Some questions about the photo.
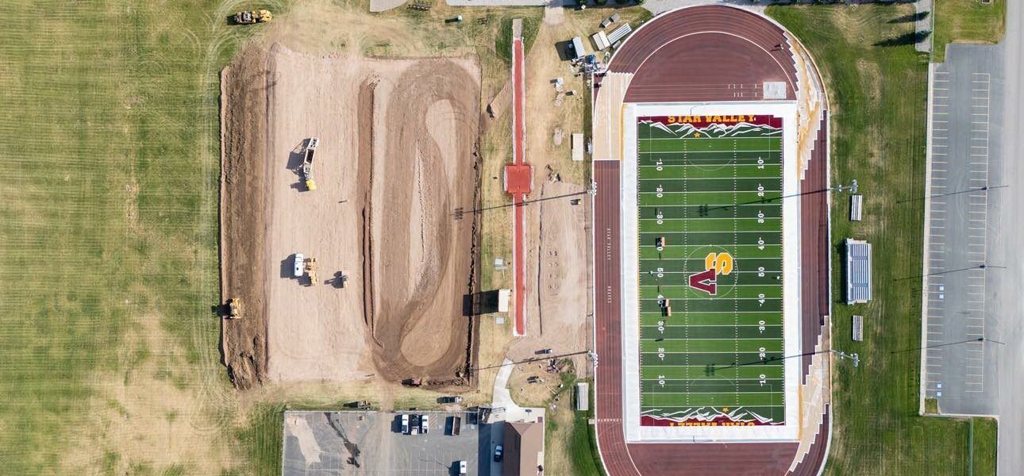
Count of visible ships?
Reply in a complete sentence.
Not a single ship can be seen.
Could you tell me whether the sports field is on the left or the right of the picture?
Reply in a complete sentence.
The sports field sits on the right side.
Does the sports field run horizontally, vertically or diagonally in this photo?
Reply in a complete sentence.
In this picture, the sports field lies vertically.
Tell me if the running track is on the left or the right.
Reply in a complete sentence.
The running track appears in the right half of the scene.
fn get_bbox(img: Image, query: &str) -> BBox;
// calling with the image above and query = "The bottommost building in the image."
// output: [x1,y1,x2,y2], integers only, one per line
[504,420,542,476]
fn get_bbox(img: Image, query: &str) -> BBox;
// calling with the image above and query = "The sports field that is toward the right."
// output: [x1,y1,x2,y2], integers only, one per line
[620,100,802,445]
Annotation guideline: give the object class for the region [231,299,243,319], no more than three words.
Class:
vehicle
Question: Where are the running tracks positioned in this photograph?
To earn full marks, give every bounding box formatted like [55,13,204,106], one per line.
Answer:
[590,3,832,476]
